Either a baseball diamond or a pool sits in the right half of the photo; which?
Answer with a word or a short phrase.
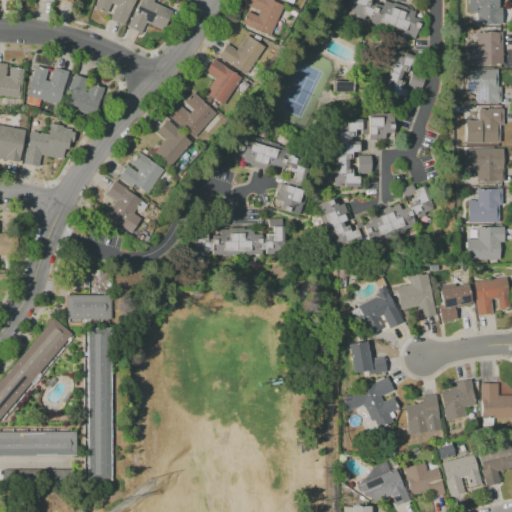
pool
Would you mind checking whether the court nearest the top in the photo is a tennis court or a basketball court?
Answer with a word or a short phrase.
tennis court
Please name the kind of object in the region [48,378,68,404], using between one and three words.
swimming pool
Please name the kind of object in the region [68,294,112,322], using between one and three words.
building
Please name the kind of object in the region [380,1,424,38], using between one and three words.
house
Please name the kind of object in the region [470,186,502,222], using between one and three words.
house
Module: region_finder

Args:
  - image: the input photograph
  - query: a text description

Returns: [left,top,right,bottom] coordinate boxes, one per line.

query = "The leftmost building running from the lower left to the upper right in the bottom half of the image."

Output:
[0,322,72,424]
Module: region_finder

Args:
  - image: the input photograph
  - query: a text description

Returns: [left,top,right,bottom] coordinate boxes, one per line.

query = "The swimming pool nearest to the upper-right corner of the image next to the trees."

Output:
[328,41,354,61]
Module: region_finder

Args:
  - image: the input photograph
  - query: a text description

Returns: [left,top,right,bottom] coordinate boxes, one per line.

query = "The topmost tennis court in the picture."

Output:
[282,56,332,126]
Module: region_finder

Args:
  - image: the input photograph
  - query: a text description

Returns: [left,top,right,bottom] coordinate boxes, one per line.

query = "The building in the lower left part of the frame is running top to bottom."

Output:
[88,330,114,481]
